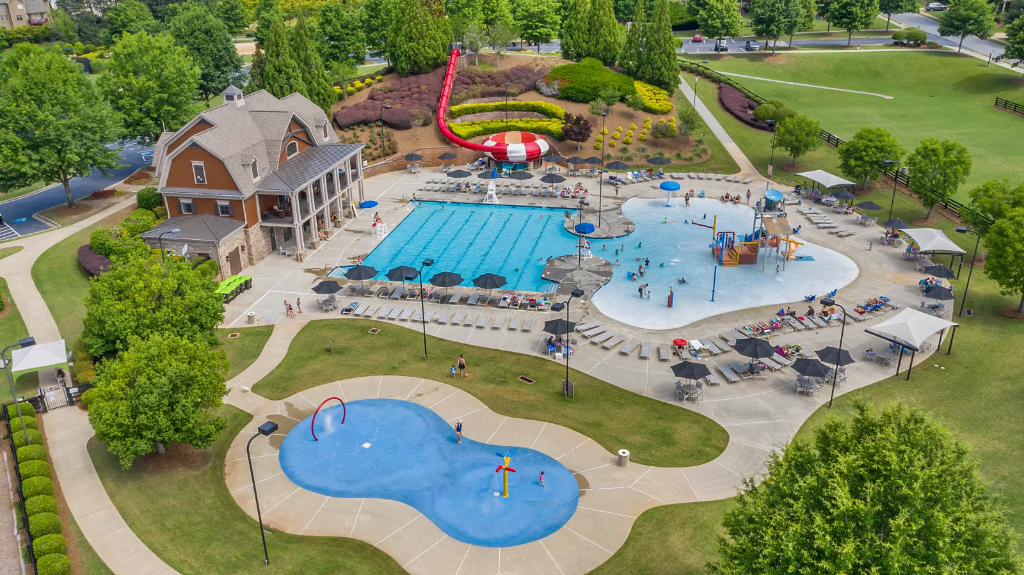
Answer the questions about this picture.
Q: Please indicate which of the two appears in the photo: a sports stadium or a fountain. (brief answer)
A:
fountain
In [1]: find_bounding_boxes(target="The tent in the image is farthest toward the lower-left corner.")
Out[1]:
[11,341,73,400]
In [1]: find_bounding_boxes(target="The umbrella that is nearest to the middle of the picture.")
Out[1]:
[474,272,508,306]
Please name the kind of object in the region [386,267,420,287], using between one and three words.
umbrella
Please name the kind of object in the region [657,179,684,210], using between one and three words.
fountain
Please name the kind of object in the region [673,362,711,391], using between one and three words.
umbrella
